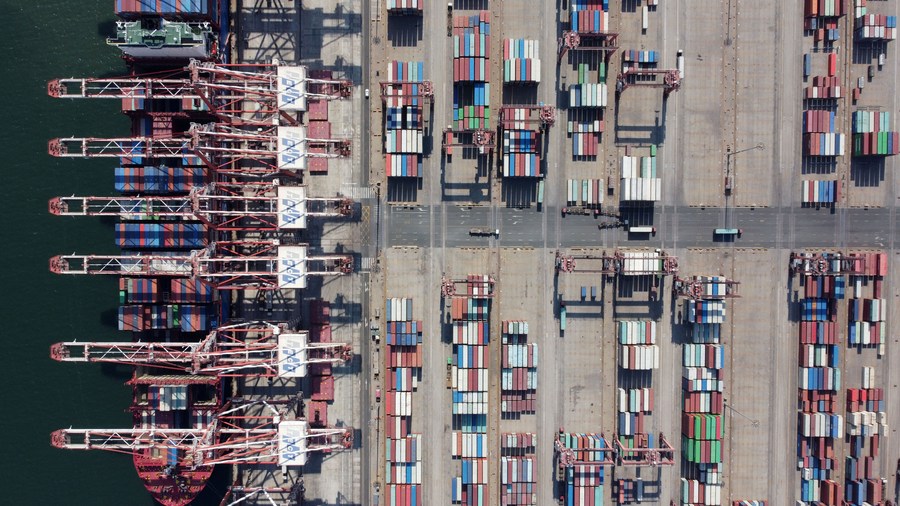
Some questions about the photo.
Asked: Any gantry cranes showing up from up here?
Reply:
Yes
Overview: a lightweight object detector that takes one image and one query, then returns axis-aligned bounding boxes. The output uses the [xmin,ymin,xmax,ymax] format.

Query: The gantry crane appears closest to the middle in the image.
[441,274,495,299]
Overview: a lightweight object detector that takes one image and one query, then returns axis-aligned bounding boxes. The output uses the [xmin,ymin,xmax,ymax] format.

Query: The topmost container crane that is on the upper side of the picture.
[560,31,619,65]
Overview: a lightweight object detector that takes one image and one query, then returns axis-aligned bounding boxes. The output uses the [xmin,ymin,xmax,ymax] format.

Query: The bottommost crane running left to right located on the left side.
[211,477,299,506]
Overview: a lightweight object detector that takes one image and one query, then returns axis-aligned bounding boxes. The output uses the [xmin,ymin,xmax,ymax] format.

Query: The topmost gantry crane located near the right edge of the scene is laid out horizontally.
[793,252,865,277]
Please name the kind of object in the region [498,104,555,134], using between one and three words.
container crane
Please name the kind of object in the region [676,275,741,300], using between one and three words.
container crane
